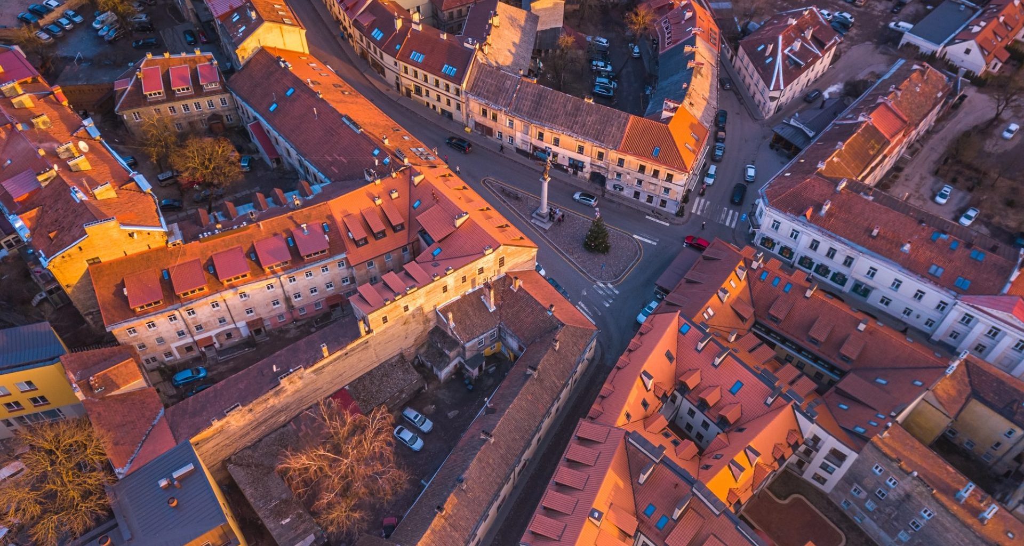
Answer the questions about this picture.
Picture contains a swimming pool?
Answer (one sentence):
No, the scene contains no swimming pool.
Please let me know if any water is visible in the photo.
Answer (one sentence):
No, no water is visible.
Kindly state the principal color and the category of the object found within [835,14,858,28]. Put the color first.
blue car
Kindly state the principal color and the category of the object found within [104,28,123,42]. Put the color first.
blue car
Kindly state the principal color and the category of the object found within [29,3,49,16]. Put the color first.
blue vehicle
